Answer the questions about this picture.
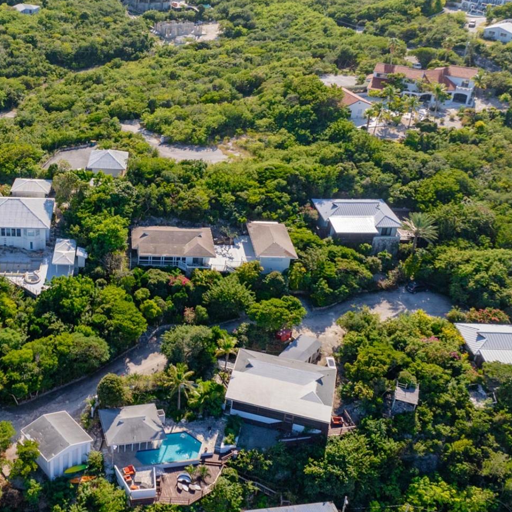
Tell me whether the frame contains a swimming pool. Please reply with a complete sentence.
Yes, a swimming pool appears in the view.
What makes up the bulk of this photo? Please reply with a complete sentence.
The largest share of the image is taken up by trees.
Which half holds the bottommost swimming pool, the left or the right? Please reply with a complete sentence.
The bottommost swimming pool is on the left side of the image.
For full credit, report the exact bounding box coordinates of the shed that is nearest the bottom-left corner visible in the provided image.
[25,409,93,478]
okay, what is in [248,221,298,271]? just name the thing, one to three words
house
